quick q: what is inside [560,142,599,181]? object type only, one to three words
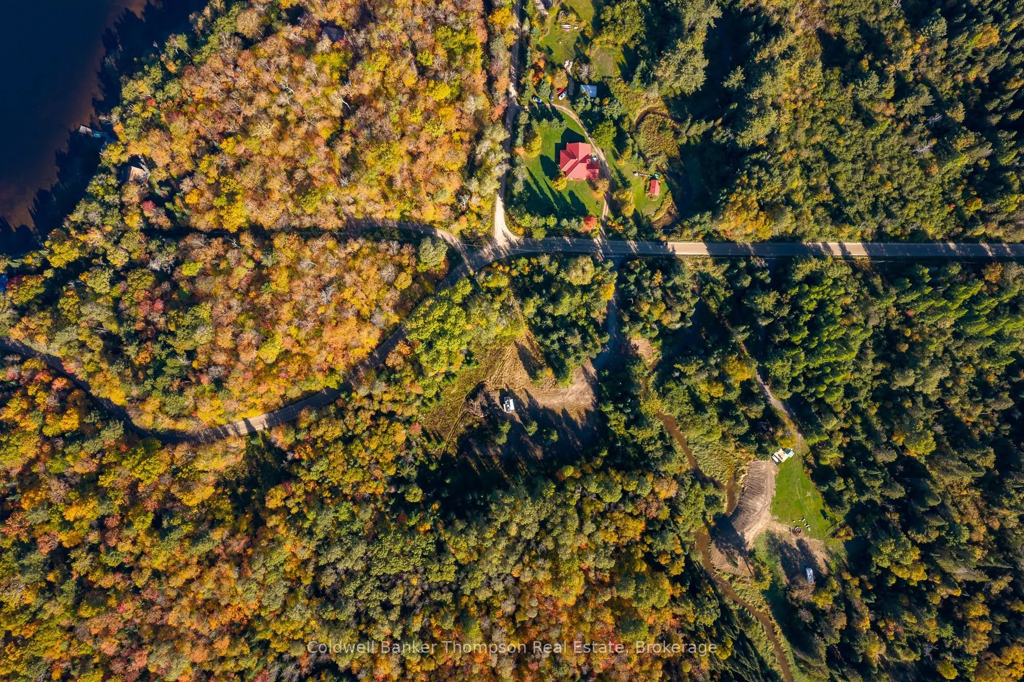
house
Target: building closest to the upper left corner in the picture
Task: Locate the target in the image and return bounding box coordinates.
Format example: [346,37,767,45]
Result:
[121,162,145,183]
